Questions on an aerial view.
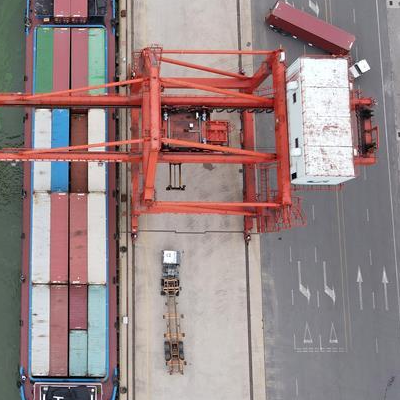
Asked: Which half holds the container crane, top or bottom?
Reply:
top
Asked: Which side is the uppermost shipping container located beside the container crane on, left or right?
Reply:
right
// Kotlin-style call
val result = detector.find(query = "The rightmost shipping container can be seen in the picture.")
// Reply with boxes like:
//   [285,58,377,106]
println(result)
[266,0,356,55]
